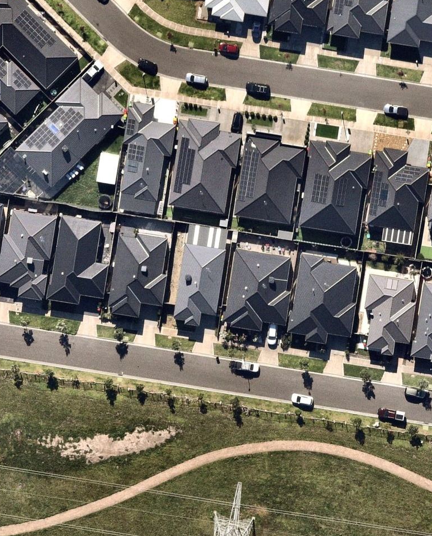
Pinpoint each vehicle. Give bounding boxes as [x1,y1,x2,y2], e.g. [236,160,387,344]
[231,109,243,134]
[290,394,314,406]
[218,44,240,55]
[81,61,105,83]
[405,388,430,400]
[235,361,260,372]
[252,20,262,41]
[377,408,405,421]
[186,73,209,86]
[384,105,408,116]
[266,324,277,345]
[135,59,159,74]
[245,83,271,97]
